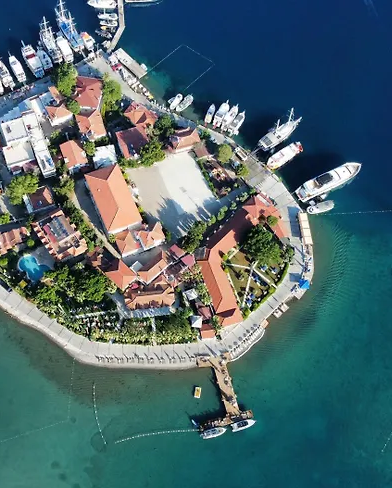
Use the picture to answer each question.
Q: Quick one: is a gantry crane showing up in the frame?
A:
No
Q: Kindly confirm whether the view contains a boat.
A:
Yes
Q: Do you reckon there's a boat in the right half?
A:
Yes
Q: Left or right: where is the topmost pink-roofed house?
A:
left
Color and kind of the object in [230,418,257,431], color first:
white boat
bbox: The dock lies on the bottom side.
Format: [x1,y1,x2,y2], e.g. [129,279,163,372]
[196,353,253,431]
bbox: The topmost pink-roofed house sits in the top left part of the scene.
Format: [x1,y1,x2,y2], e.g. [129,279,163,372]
[75,76,102,111]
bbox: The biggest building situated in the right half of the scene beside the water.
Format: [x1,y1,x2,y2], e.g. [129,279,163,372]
[199,194,291,329]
